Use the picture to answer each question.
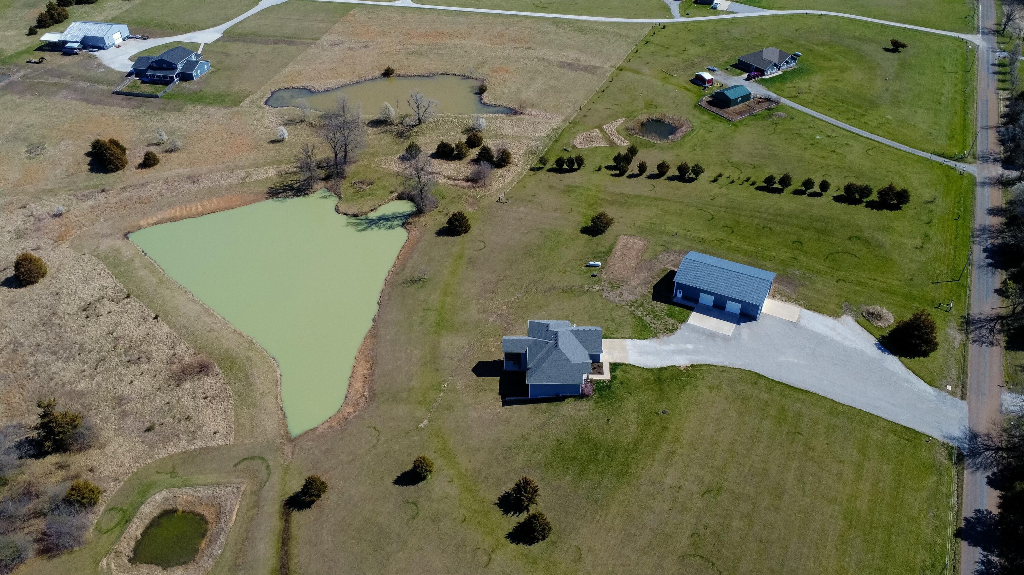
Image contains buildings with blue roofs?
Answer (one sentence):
Yes, looking at the shot, I can spot a building with a blue roof.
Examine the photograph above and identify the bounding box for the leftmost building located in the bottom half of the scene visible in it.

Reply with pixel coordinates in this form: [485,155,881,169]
[502,317,604,397]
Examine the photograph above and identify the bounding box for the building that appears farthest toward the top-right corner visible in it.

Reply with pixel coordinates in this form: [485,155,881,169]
[736,47,800,76]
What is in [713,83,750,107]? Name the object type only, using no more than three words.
barn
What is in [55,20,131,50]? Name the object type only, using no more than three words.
barn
